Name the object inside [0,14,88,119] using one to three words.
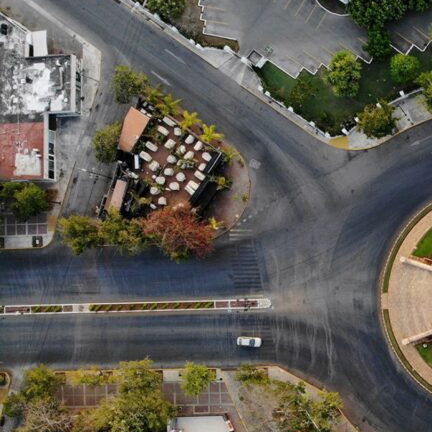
building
